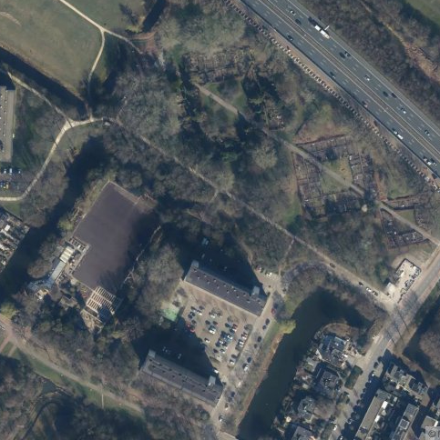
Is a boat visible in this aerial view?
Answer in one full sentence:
No, I can see no boat in this picture.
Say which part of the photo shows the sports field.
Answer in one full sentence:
The sports field is located in the left region of the scene.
